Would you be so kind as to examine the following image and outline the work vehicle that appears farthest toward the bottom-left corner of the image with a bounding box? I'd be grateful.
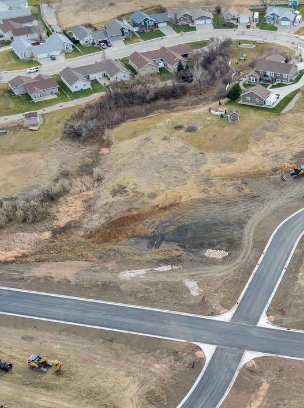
[24,357,65,375]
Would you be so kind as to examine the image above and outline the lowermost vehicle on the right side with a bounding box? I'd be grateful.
[280,165,304,179]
